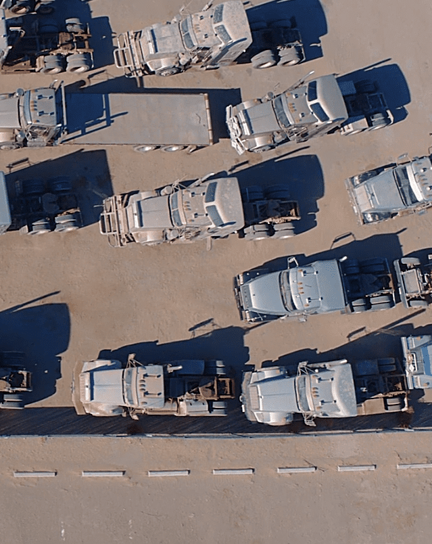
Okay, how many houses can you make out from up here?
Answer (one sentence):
The picture shows no houses.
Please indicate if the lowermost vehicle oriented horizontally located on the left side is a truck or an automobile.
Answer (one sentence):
I'd identify the lowermost vehicle oriented horizontally located on the left side as a truck.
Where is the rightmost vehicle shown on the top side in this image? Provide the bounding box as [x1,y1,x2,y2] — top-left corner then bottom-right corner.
[344,152,432,227]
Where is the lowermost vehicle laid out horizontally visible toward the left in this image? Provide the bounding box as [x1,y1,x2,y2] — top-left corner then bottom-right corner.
[69,350,238,425]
